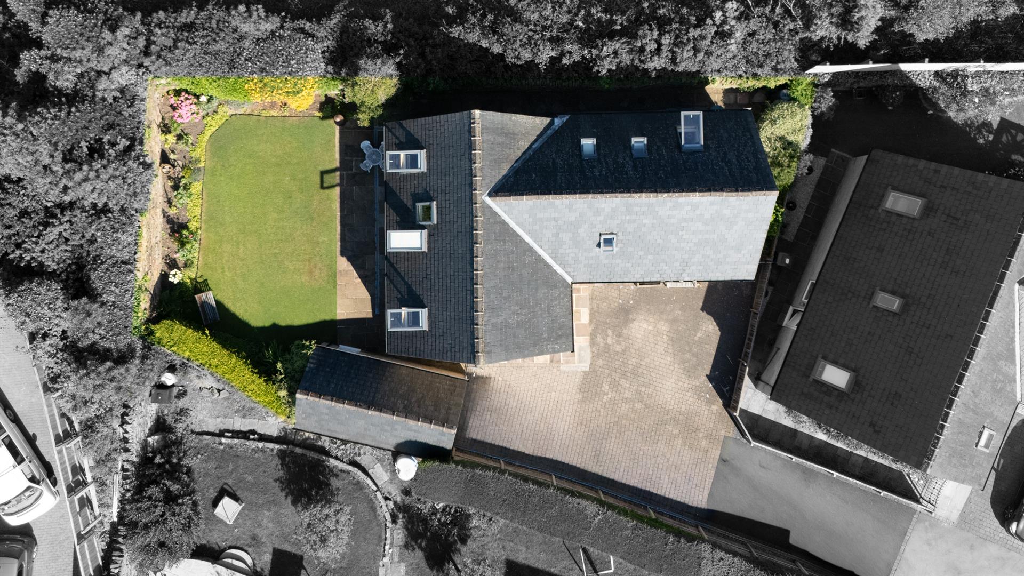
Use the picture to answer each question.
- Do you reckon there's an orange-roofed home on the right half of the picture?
No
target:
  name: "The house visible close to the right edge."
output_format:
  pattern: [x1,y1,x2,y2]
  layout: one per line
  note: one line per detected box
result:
[756,150,1024,490]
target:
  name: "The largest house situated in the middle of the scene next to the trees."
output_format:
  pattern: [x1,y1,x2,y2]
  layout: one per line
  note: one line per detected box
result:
[383,107,780,366]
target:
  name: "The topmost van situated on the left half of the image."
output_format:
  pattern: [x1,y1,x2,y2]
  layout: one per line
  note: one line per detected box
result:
[0,407,58,516]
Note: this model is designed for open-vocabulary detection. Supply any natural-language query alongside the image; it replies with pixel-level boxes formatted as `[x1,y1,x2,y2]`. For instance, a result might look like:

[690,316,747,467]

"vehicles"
[0,537,41,576]
[1004,486,1024,538]
[0,407,58,516]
